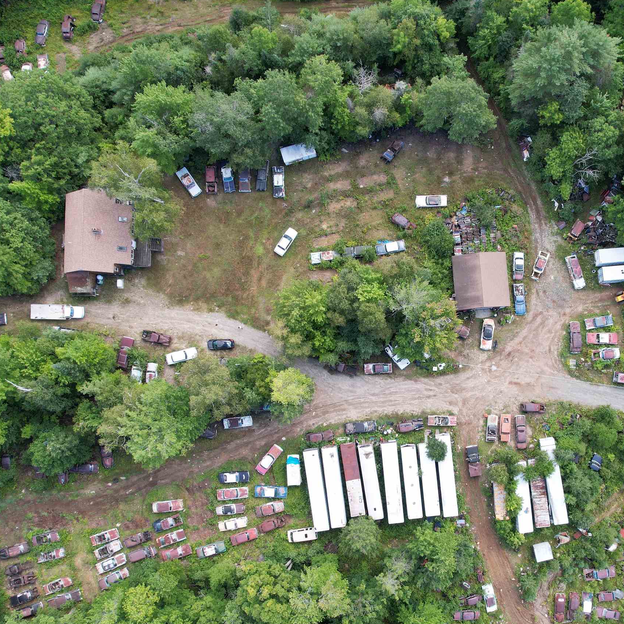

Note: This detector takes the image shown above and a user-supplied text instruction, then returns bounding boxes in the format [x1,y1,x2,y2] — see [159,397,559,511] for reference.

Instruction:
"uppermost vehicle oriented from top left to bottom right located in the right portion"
[392,212,414,232]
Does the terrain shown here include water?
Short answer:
No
